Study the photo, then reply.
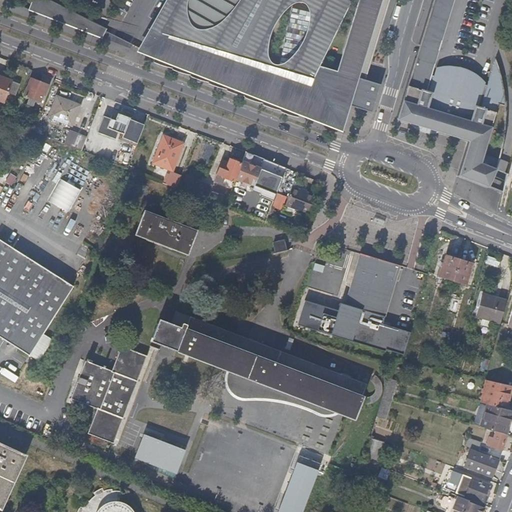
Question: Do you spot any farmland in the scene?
No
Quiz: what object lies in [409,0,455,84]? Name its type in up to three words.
building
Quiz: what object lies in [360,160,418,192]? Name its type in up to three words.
roundabout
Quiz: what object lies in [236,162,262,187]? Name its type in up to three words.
house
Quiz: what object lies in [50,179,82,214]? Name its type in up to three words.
building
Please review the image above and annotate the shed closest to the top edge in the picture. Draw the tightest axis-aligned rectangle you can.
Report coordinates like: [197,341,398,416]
[29,0,108,38]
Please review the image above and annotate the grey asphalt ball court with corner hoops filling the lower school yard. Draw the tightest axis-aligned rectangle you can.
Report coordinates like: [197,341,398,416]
[187,424,296,512]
